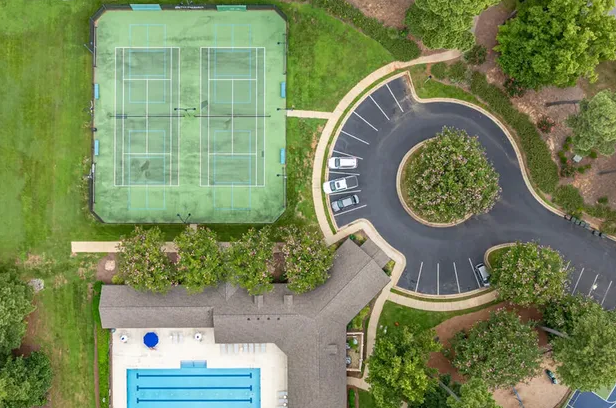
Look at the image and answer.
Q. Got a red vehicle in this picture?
No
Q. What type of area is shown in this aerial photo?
sports ground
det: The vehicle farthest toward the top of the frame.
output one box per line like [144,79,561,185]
[328,156,357,170]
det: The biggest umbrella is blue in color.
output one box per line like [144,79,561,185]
[144,332,159,348]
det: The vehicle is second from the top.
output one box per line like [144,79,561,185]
[322,177,358,194]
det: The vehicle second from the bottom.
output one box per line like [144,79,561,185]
[331,195,360,212]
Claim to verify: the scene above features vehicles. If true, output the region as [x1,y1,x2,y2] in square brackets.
[322,177,358,194]
[331,195,360,212]
[475,261,491,287]
[328,156,357,170]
